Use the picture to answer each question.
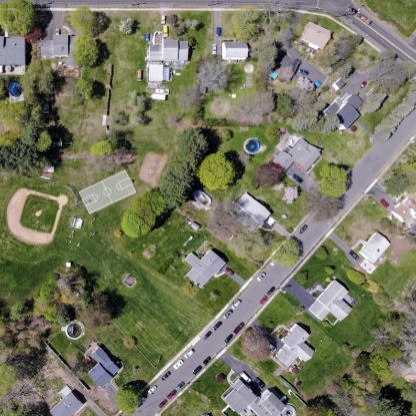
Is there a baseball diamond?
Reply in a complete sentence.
Yes, a baseball diamond can be made out from above.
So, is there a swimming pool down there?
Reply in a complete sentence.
Yes, the image includes a swimming pool.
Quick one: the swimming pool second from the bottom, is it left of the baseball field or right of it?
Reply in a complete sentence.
The swimming pool second from the bottom is to the right of the baseball field.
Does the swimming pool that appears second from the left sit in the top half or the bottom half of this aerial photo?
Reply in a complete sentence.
The bottom half of the photo is where the swimming pool that appears second from the left is.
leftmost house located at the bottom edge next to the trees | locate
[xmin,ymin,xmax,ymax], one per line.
[51,385,88,416]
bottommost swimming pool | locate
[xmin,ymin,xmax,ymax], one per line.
[61,321,85,342]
